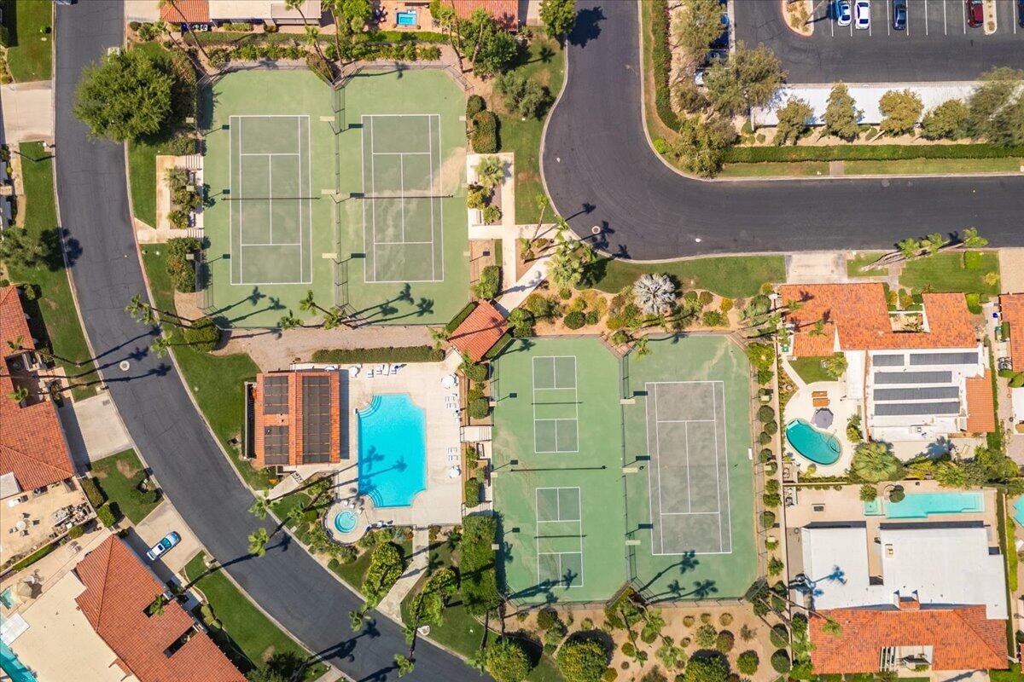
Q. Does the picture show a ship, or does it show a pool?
pool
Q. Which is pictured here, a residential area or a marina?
residential area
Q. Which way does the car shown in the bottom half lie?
at an angle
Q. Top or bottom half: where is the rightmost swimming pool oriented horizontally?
bottom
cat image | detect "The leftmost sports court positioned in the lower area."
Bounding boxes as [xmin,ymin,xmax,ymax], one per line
[492,338,629,605]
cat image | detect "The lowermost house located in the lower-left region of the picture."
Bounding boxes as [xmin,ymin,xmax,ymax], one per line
[0,535,245,682]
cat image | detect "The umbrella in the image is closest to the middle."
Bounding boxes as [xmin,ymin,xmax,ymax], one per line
[439,372,457,390]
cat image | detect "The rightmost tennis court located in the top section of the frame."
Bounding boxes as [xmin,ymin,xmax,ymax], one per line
[336,70,469,327]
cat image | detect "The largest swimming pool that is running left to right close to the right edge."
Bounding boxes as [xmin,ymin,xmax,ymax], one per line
[883,490,987,522]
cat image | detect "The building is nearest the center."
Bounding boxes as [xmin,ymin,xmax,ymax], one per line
[448,300,508,361]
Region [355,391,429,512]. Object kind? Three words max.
swimming pool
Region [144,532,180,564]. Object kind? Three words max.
car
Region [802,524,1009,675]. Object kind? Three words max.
house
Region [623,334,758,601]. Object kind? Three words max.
tennis court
